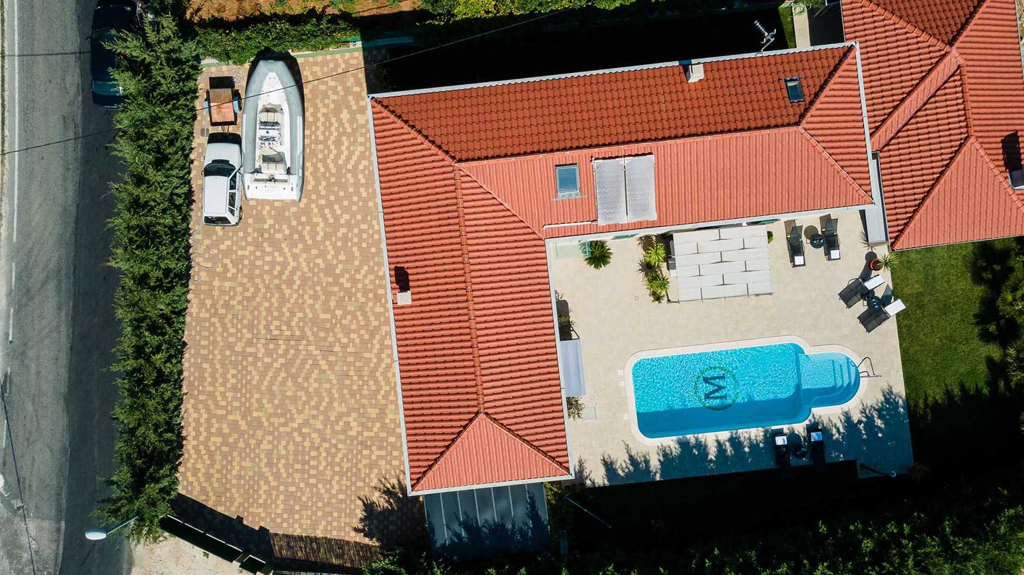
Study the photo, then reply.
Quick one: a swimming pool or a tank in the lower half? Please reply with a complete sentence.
Looking in the lower half, you will find a swimming pool.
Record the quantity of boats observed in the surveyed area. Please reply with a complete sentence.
Only 1 boat is visible.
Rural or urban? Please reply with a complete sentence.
It looks urban.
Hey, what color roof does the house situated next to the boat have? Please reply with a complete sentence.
From above, the roof of the house situated next to the boat looks red.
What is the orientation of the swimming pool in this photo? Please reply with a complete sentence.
The swimming pool is laid out horizontally.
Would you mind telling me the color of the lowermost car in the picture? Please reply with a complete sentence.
In this view, the lowermost car is white.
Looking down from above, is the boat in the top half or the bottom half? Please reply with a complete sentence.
You can find the boat in the top half.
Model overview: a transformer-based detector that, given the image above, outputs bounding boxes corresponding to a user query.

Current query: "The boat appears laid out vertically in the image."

[241,60,305,201]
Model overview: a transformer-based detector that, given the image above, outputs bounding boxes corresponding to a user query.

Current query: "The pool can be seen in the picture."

[625,335,869,447]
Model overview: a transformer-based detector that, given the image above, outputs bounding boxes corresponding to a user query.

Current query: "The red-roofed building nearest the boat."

[362,38,880,502]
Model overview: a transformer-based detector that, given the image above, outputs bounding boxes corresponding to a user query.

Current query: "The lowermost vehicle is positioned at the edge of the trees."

[201,142,248,230]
